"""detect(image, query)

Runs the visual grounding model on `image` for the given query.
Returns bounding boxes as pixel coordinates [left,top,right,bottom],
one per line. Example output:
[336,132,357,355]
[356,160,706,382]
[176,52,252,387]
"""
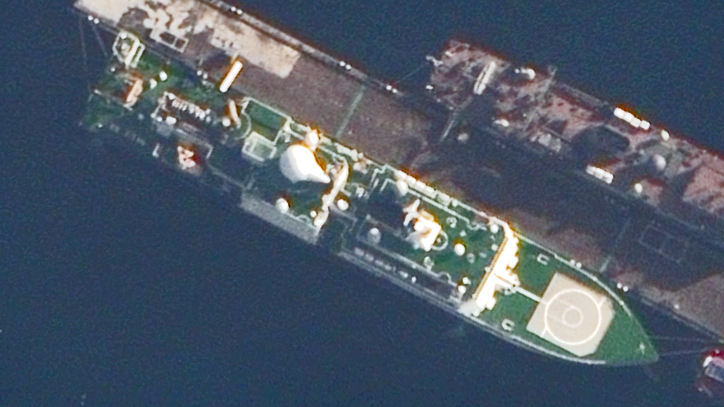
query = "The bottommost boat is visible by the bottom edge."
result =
[698,346,724,397]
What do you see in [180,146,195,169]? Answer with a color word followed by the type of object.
white boat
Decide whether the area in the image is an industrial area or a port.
port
